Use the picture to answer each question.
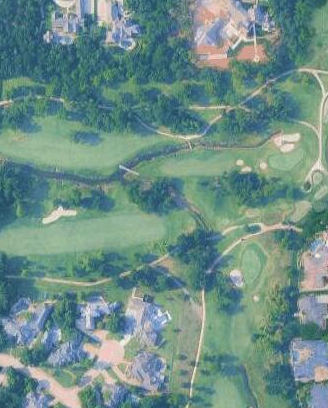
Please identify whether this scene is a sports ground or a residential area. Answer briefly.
residential area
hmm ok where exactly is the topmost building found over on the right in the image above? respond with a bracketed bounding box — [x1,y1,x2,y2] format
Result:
[197,0,276,51]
